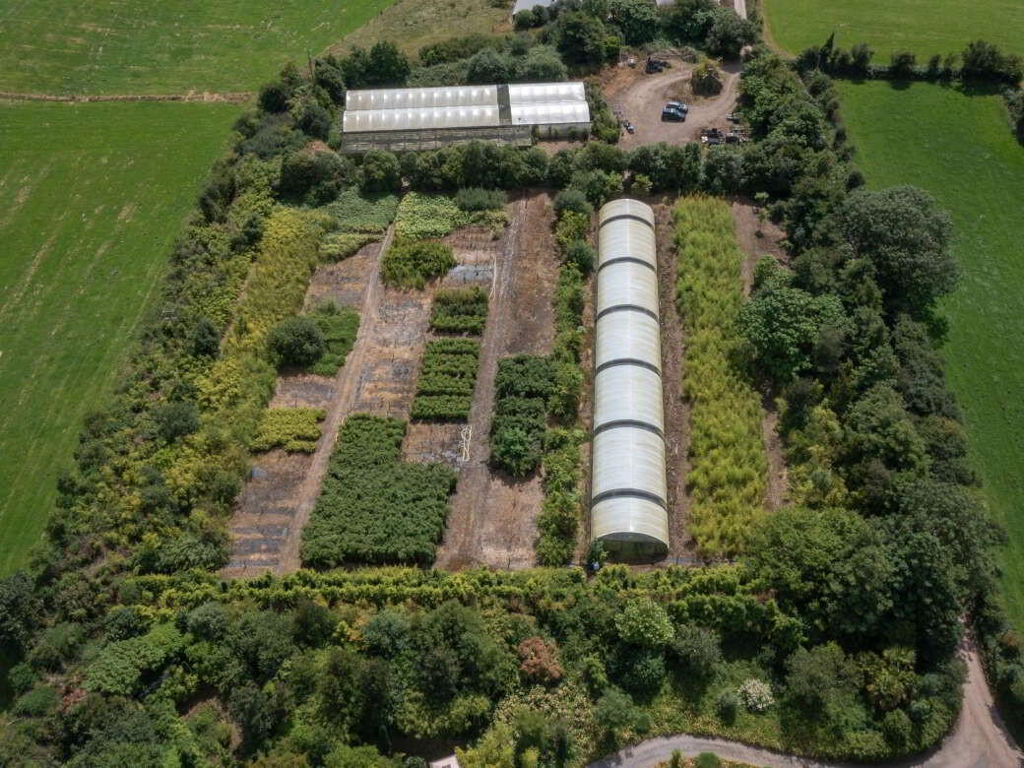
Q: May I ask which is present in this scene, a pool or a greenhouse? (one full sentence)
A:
The image shows a greenhouse.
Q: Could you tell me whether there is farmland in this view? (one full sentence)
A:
Yes, farmland shows up in the scene.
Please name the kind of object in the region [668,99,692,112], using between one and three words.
vehicle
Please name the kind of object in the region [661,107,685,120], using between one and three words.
vehicle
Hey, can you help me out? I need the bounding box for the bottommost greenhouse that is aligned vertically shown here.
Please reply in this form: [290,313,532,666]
[591,199,672,551]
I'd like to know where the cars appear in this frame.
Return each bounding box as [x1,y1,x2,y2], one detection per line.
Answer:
[668,99,692,112]
[661,107,685,120]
